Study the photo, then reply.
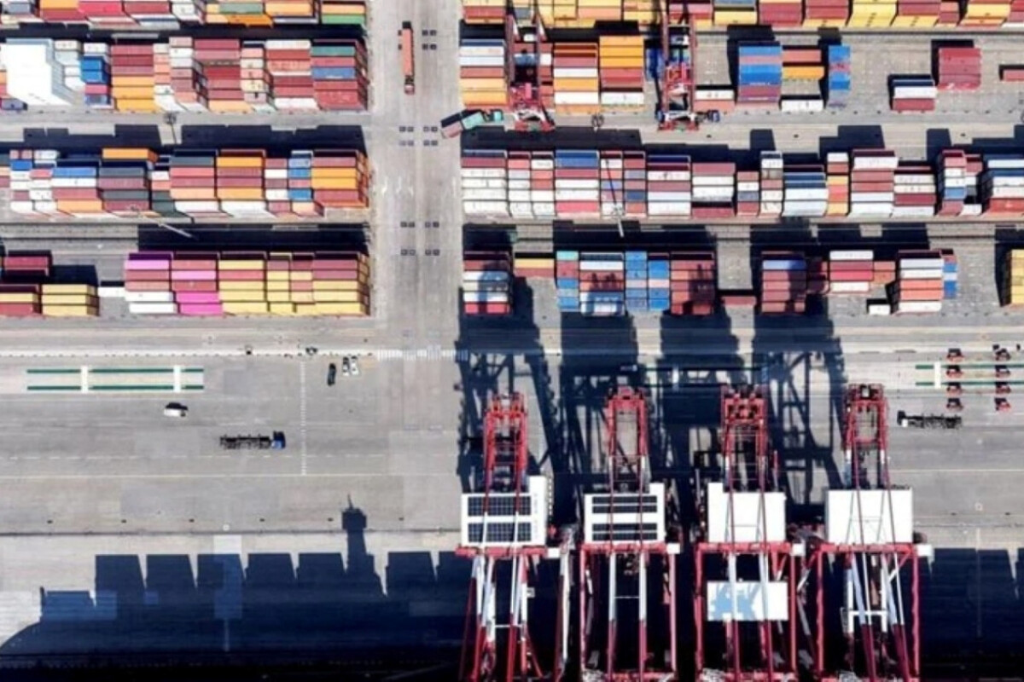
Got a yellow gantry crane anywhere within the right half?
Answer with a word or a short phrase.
No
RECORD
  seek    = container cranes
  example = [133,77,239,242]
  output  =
[679,382,802,682]
[654,7,702,127]
[507,8,558,128]
[566,385,685,682]
[780,381,923,682]
[447,391,585,682]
